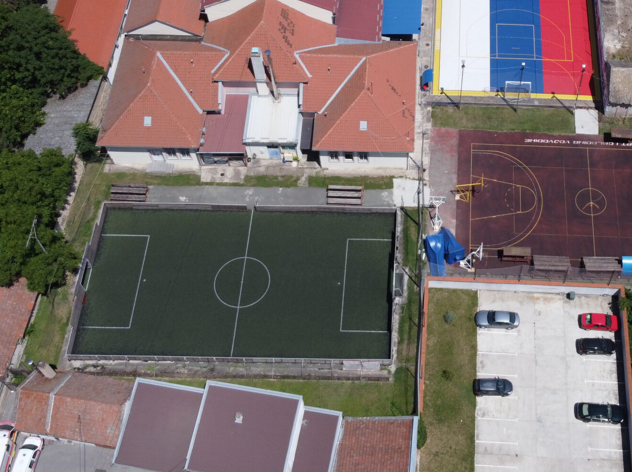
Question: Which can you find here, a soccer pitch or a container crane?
soccer pitch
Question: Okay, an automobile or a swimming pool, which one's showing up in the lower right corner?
automobile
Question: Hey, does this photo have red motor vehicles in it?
Yes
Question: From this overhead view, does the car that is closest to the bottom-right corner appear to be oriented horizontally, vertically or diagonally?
horizontally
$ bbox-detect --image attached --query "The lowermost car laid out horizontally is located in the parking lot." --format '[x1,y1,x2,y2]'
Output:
[574,402,624,424]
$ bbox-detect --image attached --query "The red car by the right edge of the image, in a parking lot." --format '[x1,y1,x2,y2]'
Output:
[578,313,618,333]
